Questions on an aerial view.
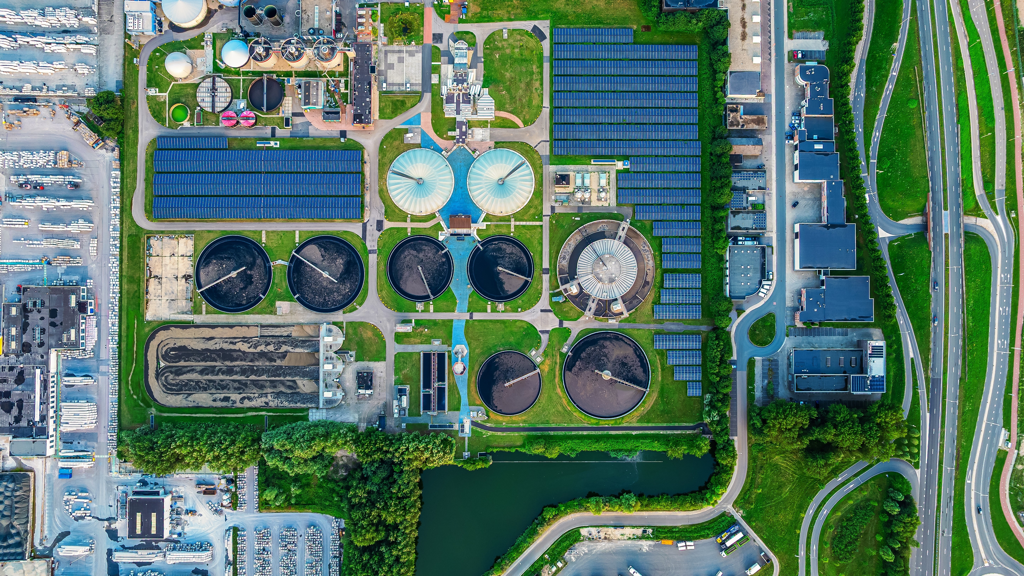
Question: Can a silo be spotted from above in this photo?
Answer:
Yes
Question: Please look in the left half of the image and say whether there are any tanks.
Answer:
Yes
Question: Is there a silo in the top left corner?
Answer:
Yes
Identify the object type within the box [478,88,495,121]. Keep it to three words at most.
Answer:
building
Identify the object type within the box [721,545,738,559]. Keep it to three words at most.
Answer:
vehicle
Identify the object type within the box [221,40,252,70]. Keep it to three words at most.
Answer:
storage tank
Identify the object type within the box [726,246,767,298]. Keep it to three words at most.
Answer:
building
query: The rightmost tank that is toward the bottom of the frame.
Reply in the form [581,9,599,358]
[563,331,651,420]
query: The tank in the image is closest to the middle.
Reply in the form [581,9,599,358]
[467,235,534,302]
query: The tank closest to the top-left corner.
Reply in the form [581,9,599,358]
[161,0,210,28]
